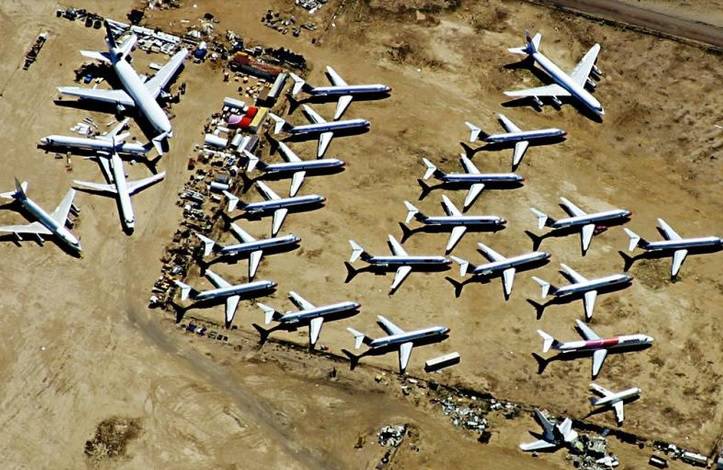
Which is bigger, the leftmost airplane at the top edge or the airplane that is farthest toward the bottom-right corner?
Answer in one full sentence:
The airplane that is farthest toward the bottom-right corner is smaller than the leftmost airplane at the top edge.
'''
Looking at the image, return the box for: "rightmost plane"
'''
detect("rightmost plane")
[625,220,723,275]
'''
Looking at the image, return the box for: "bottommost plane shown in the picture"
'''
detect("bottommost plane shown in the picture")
[587,383,641,423]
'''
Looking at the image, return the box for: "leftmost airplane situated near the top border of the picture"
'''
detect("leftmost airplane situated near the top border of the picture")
[58,21,188,135]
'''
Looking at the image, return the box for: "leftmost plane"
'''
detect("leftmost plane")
[0,176,82,251]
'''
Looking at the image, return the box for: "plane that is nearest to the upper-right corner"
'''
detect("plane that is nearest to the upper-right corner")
[502,30,606,116]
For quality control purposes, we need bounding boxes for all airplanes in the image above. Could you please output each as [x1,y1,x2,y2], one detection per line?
[450,243,551,295]
[58,21,188,135]
[245,143,345,195]
[41,120,170,180]
[224,181,325,234]
[625,220,723,275]
[502,30,606,116]
[292,68,390,119]
[466,114,566,165]
[174,268,277,323]
[270,105,369,156]
[532,264,633,318]
[540,320,655,376]
[0,176,82,251]
[347,315,450,370]
[71,140,167,228]
[198,223,300,277]
[587,383,641,423]
[350,235,452,290]
[258,291,361,345]
[405,196,506,250]
[424,154,524,207]
[531,198,631,250]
